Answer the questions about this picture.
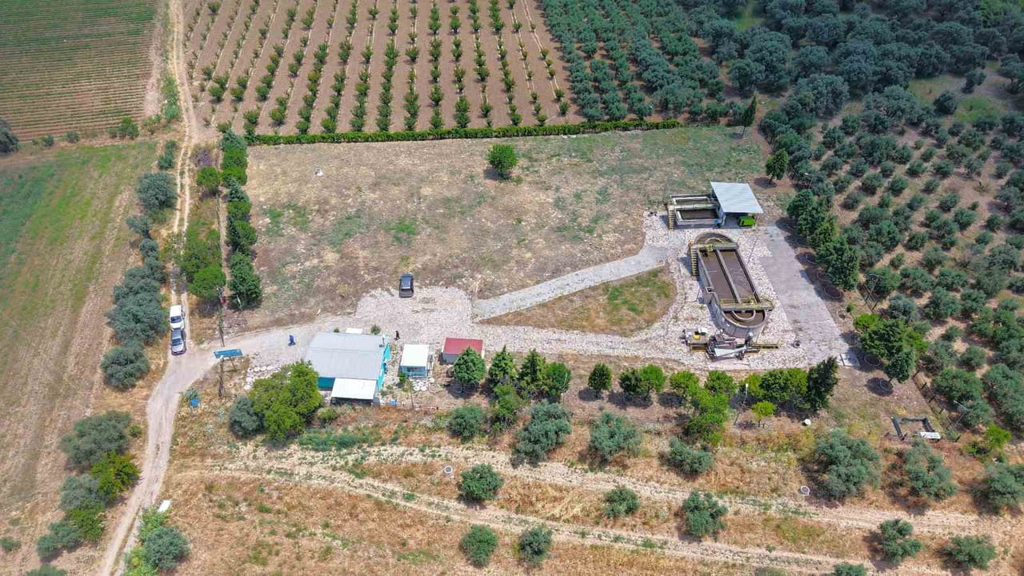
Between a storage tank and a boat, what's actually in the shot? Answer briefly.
storage tank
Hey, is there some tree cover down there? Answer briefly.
Yes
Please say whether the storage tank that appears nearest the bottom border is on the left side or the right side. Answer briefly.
right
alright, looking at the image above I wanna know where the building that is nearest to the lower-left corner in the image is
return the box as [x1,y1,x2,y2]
[301,327,394,411]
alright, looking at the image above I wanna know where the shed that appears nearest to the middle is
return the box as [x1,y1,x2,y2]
[443,335,485,365]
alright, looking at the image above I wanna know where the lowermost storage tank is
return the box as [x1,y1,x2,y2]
[690,233,777,342]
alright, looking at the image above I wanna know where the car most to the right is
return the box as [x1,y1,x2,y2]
[399,275,414,298]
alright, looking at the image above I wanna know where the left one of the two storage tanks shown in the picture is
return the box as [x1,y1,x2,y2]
[664,195,721,232]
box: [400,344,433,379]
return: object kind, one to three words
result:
building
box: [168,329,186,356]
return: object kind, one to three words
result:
car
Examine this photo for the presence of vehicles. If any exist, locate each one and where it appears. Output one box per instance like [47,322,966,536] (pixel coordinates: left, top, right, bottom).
[167,300,185,330]
[399,275,414,298]
[168,329,186,356]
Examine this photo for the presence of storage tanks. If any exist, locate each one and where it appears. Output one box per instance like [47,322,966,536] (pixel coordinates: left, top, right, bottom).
[664,195,721,232]
[690,233,777,342]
